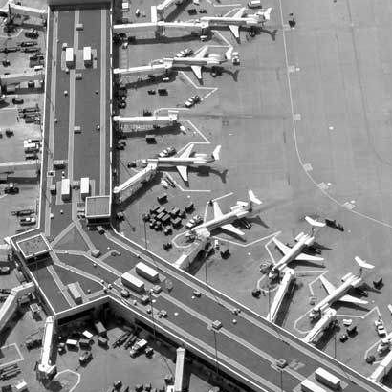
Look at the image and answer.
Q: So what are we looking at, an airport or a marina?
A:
airport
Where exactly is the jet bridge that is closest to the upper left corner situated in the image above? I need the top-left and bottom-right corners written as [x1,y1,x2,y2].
[0,0,46,26]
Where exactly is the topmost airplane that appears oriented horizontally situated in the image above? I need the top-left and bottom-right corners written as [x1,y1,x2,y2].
[192,3,271,36]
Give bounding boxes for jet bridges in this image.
[156,21,209,42]
[266,266,294,325]
[174,227,212,270]
[369,337,392,383]
[38,314,60,384]
[0,71,44,96]
[112,59,174,88]
[114,157,158,208]
[172,345,187,392]
[0,280,37,338]
[300,305,336,346]
[0,160,42,185]
[155,0,186,21]
[113,109,179,136]
[0,0,46,26]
